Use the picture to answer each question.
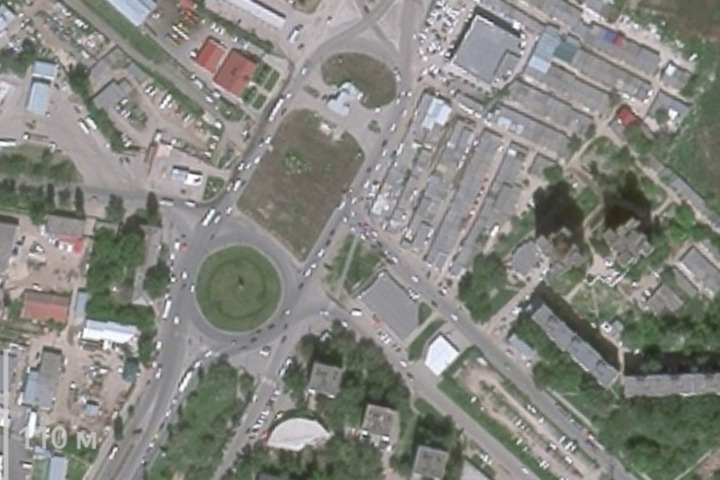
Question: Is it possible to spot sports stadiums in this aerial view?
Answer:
No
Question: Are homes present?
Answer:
Yes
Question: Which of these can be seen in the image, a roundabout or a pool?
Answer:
roundabout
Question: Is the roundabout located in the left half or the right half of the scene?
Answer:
left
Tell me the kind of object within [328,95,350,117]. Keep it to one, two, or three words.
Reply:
building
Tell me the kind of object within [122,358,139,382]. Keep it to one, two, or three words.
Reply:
shed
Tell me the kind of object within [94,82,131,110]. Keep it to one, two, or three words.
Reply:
building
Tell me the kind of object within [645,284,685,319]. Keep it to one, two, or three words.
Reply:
house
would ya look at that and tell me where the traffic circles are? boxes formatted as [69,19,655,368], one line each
[188,226,297,347]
